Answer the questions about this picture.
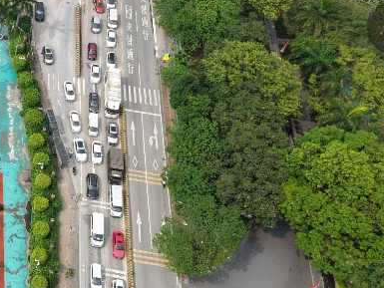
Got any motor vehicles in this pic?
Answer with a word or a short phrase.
Yes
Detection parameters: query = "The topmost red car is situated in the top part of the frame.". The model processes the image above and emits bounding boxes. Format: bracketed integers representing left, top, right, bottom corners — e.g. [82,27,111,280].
[92,0,106,12]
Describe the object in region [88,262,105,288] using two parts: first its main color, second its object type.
white car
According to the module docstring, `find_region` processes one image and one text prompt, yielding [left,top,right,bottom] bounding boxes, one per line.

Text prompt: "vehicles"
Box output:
[62,82,77,102]
[72,139,88,162]
[34,2,45,20]
[110,279,124,288]
[106,8,119,28]
[87,93,101,114]
[105,50,118,67]
[88,262,105,288]
[107,183,126,218]
[86,42,99,61]
[106,145,127,184]
[89,211,107,247]
[90,13,103,33]
[86,111,101,137]
[68,111,83,133]
[102,67,125,115]
[85,174,101,199]
[110,232,126,260]
[105,29,118,47]
[105,123,120,145]
[90,141,104,164]
[106,0,117,8]
[92,0,106,12]
[89,63,102,84]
